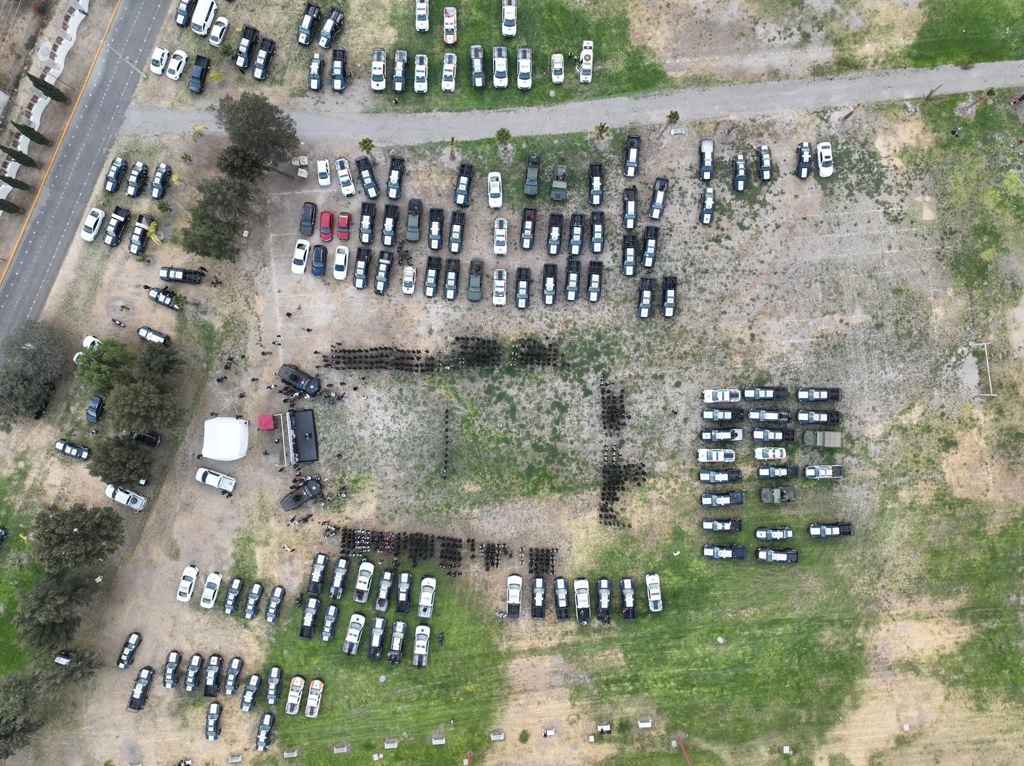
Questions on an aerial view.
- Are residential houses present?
No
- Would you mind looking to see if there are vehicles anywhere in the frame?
Yes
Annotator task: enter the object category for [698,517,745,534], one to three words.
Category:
vehicle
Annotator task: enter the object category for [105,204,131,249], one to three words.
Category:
truck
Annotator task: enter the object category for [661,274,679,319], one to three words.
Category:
vehicle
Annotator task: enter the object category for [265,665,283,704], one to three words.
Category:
car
